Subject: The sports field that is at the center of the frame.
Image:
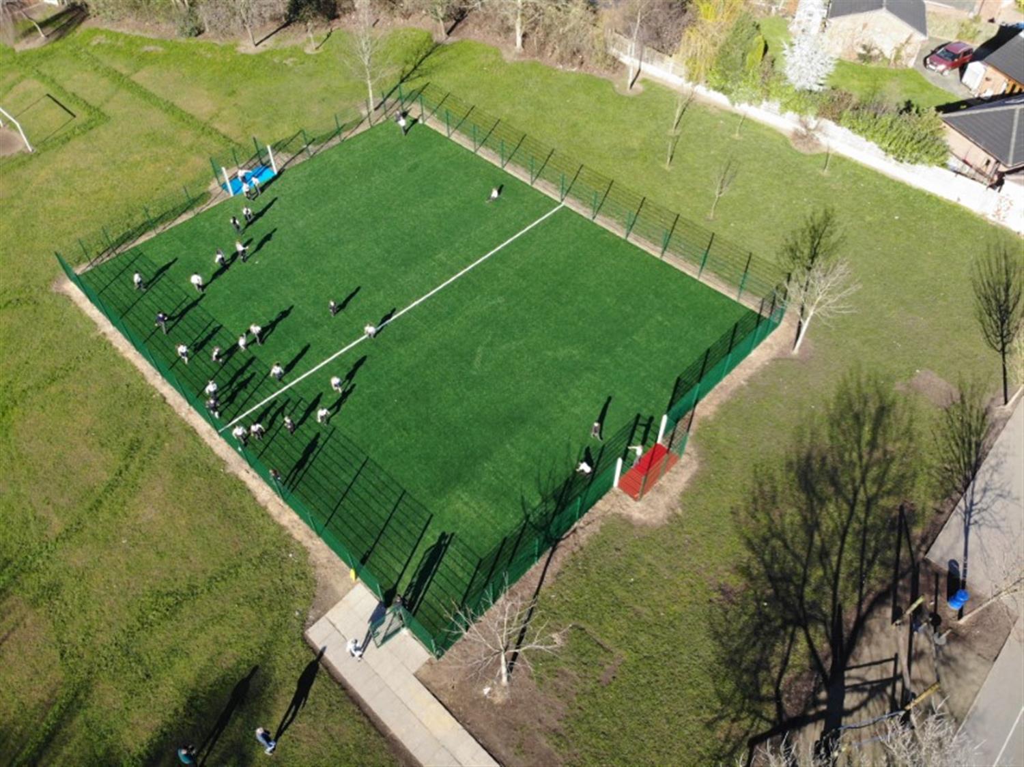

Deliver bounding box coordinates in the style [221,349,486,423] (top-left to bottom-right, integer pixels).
[73,110,779,662]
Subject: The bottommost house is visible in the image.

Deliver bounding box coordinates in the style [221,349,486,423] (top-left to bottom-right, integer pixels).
[932,97,1024,194]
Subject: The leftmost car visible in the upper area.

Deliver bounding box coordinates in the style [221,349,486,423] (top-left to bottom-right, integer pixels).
[929,36,981,77]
